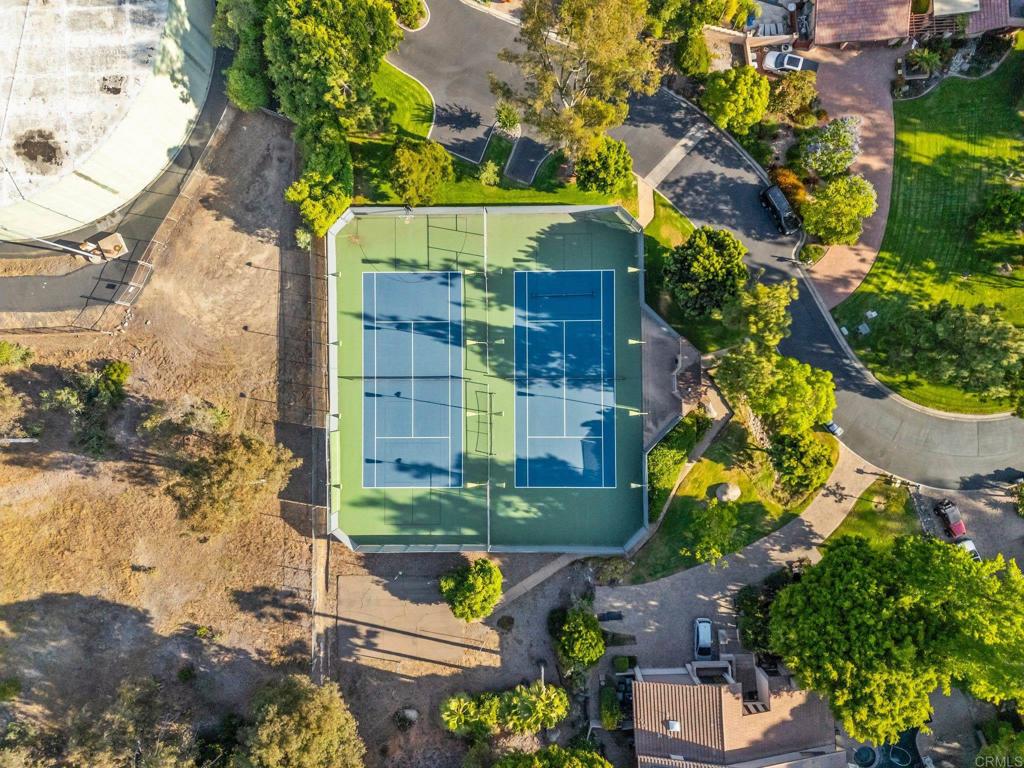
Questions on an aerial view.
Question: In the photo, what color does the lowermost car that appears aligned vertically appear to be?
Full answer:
In this view, the lowermost car that appears aligned vertically is blue.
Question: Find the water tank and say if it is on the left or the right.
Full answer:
The water tank sits on the left side.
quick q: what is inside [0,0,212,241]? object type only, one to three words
water tank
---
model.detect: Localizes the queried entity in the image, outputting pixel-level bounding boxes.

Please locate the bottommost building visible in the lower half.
[632,653,846,768]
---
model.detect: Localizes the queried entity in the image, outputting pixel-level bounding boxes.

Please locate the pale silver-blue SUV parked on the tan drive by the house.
[693,616,715,660]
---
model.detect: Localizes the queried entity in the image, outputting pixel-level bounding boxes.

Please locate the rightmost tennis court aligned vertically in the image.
[487,213,644,547]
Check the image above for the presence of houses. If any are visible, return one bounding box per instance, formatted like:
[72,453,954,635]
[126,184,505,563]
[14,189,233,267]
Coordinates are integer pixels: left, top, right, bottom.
[632,653,846,768]
[809,0,1024,54]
